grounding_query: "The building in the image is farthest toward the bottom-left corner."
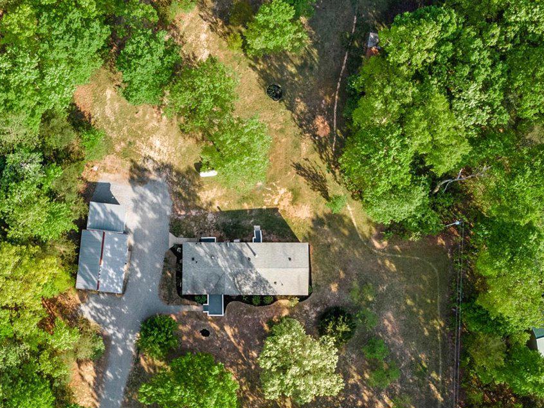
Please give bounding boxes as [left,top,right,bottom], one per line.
[75,229,129,294]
